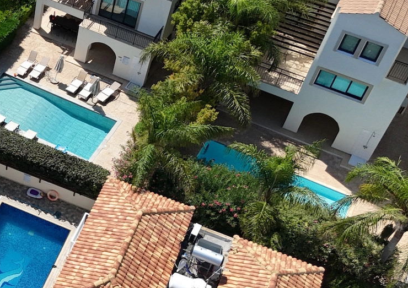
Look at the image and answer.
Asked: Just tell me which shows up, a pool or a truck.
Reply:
pool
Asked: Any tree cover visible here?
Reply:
Yes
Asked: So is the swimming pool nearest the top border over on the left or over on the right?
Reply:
left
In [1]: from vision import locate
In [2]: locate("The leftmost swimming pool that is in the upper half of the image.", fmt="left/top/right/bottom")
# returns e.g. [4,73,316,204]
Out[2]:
[0,67,128,160]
